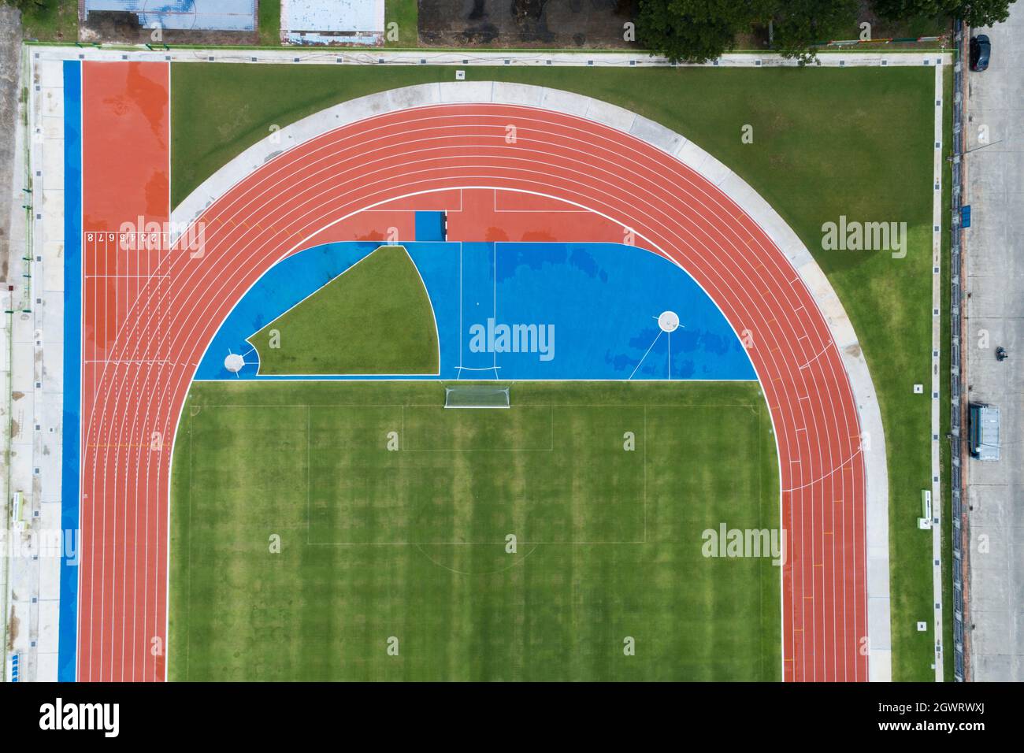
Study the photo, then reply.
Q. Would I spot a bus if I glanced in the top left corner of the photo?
No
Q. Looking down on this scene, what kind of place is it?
sports ground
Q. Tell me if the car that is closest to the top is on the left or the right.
right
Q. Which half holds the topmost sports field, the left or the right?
left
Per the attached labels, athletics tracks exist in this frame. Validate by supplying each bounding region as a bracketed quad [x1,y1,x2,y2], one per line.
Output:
[73,61,873,753]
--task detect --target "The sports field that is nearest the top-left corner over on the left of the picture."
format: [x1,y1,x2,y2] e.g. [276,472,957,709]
[245,245,440,375]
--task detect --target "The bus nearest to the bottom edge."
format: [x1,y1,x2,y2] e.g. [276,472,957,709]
[969,403,1000,459]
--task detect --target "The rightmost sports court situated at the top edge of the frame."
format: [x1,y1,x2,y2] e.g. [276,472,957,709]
[280,0,385,47]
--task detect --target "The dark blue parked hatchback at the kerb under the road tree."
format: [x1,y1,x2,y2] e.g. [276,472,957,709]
[970,34,992,72]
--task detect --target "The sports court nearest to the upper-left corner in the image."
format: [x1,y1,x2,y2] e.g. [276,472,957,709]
[78,0,258,45]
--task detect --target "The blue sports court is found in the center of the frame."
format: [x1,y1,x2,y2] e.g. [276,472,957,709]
[191,240,759,382]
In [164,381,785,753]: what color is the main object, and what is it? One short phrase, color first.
green soccer field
